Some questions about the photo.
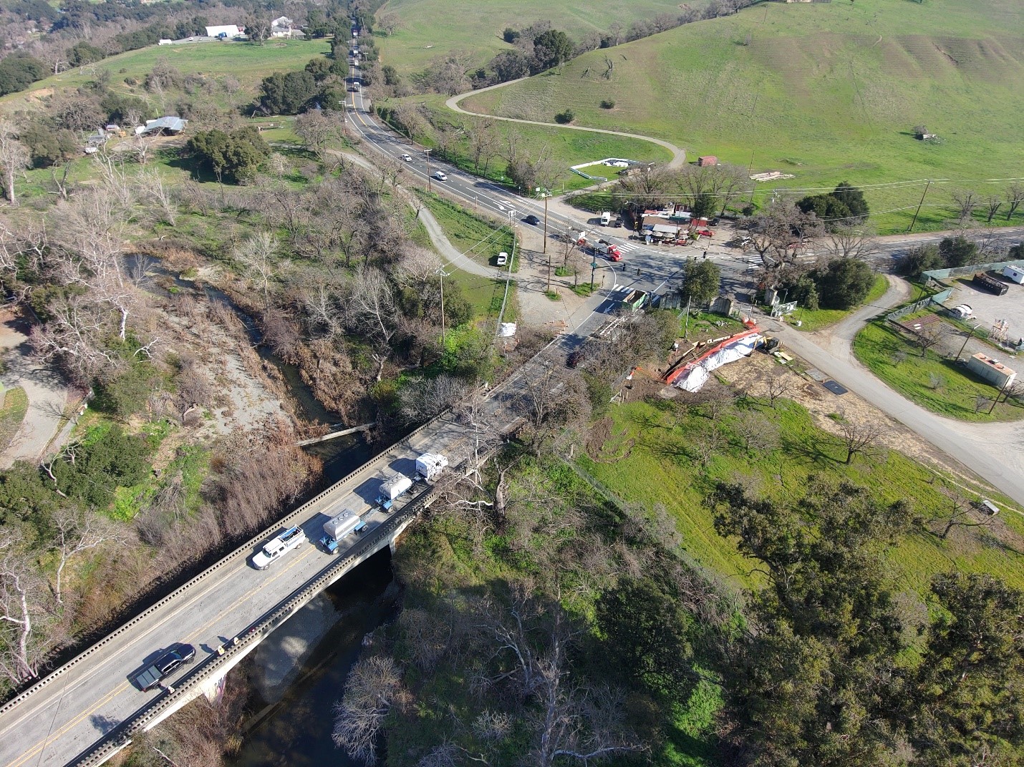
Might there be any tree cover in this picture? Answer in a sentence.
Yes, tree cover shows up in the scene.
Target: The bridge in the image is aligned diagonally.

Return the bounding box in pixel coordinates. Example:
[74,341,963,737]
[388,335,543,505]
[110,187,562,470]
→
[0,382,545,767]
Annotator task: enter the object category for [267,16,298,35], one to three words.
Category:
house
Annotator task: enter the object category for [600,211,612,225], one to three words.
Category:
vehicle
